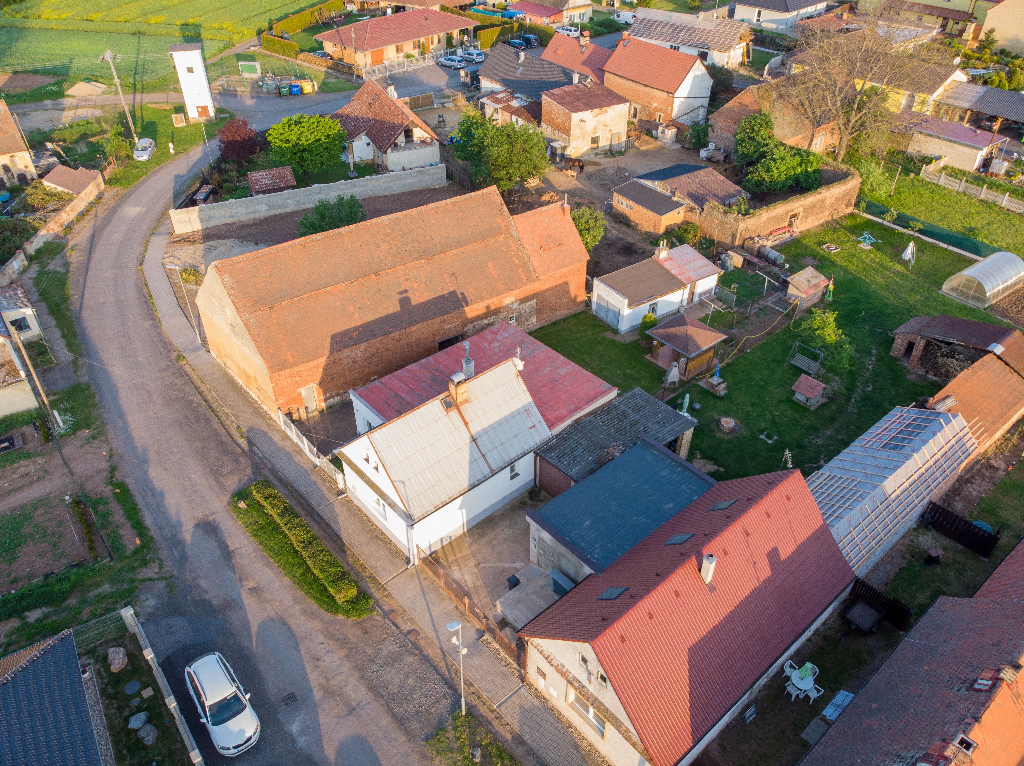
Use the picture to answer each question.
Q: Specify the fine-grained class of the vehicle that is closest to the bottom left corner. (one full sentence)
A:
It turns out the vehicle that is closest to the bottom left corner is a car.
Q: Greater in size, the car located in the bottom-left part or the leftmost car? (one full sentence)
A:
Of the two, the car located in the bottom-left part is bigger, while the leftmost car is smaller.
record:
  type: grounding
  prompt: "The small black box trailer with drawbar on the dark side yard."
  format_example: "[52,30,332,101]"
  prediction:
[843,589,894,642]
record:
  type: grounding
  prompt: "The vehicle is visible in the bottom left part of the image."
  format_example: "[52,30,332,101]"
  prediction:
[178,646,260,756]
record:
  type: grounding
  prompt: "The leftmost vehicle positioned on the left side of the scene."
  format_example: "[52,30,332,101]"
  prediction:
[130,136,157,160]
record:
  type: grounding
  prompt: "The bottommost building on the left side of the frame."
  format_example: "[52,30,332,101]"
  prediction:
[0,627,104,766]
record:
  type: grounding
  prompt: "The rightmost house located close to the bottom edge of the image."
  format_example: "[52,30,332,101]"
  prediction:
[790,592,1024,766]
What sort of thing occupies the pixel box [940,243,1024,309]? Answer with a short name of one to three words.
greenhouse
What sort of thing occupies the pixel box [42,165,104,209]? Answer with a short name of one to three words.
shed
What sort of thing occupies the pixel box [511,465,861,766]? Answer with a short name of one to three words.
house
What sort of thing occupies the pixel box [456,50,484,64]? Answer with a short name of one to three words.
car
